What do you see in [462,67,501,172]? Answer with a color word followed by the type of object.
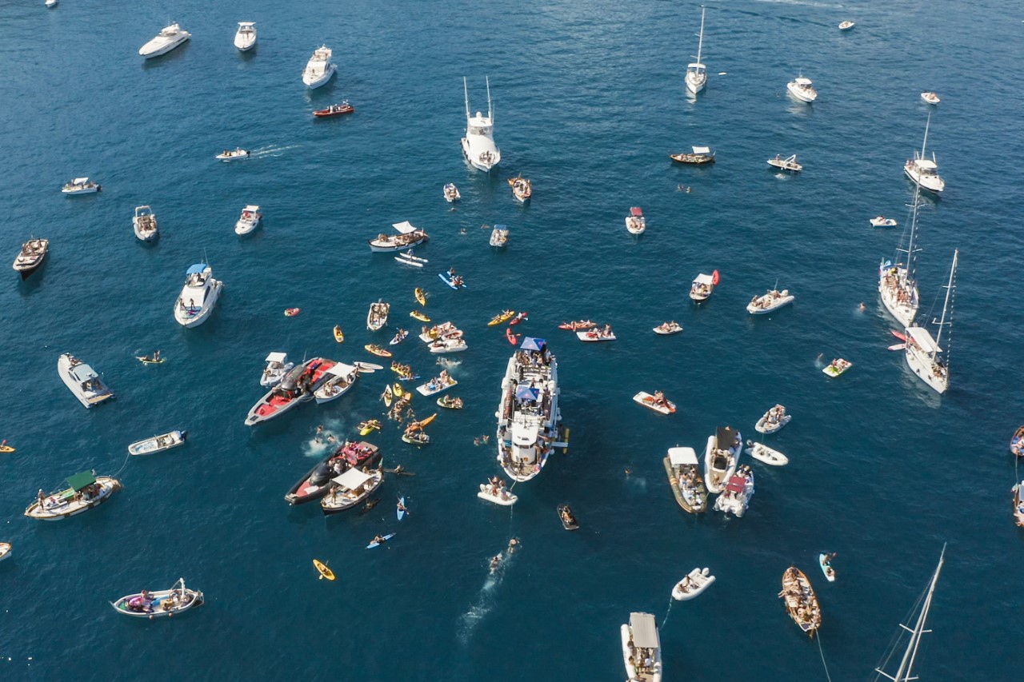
white boat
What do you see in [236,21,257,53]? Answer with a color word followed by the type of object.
white boat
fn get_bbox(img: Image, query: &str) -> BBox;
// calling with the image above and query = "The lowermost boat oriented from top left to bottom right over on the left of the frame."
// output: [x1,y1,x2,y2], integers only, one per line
[313,558,335,579]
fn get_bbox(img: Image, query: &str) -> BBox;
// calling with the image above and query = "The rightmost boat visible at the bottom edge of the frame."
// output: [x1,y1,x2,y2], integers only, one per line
[851,553,944,682]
